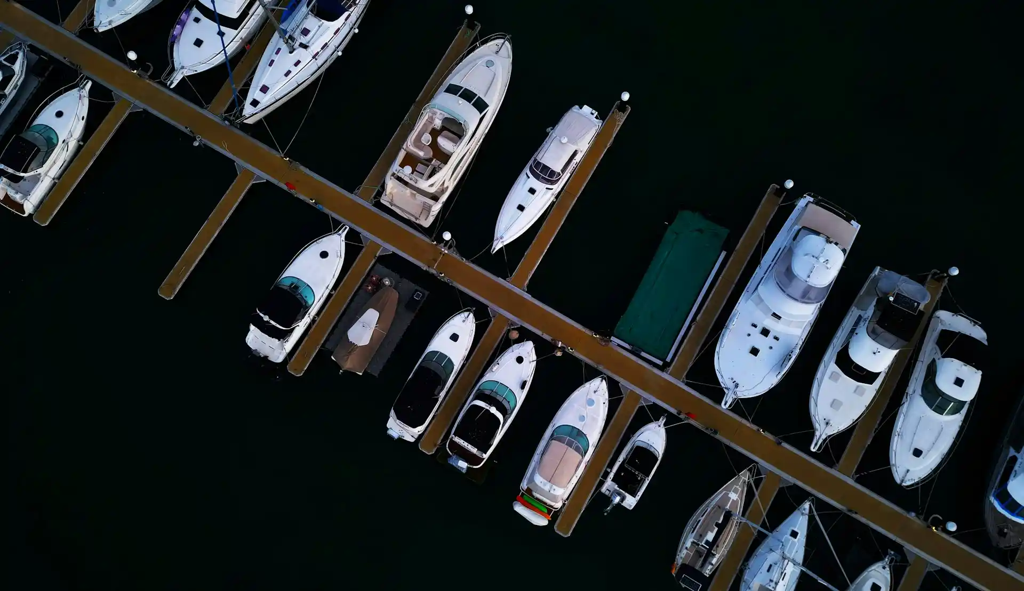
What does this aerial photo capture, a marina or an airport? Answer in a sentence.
It's a marina.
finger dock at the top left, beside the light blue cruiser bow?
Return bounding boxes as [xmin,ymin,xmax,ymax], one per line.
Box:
[60,0,96,36]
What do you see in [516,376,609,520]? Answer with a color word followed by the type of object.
white boat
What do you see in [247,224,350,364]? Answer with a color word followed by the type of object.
white boat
